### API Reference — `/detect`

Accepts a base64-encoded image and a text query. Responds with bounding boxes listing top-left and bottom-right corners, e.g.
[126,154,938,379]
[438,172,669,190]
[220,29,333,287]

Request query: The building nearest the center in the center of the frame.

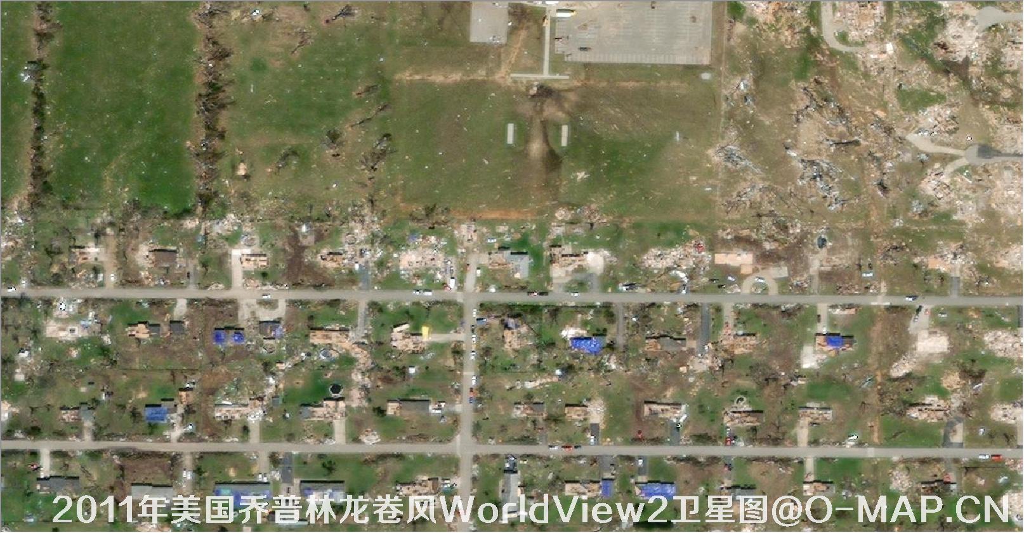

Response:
[484,247,534,284]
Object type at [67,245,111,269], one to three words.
house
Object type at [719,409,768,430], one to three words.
house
